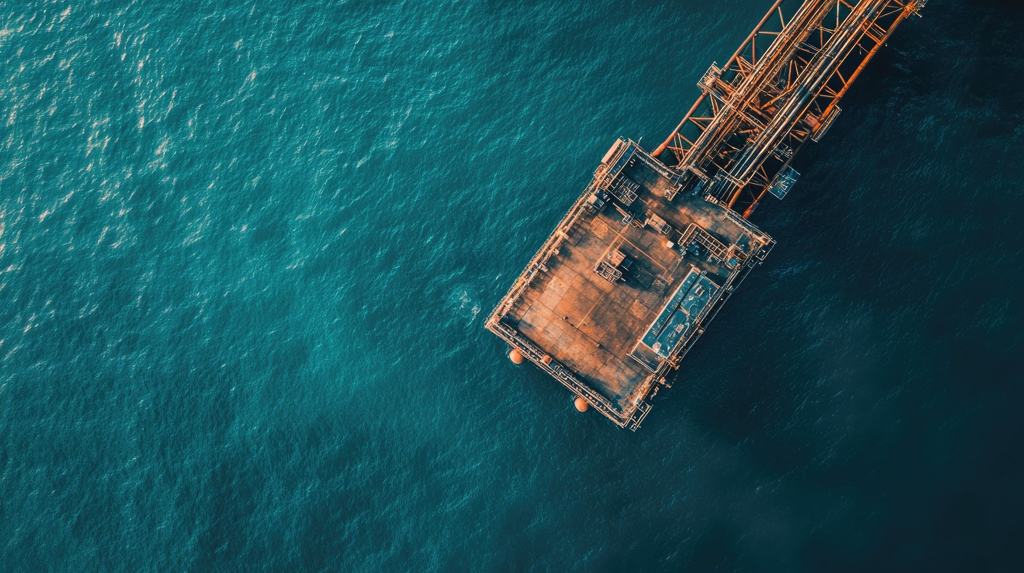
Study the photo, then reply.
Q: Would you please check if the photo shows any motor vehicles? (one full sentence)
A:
No, this view has no motor vehicle in it.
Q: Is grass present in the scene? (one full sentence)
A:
No, there is no grass in the image.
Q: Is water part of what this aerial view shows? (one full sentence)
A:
Yes, water can be seen from above here.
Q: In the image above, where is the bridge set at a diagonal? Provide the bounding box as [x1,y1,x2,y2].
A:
[651,0,918,219]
